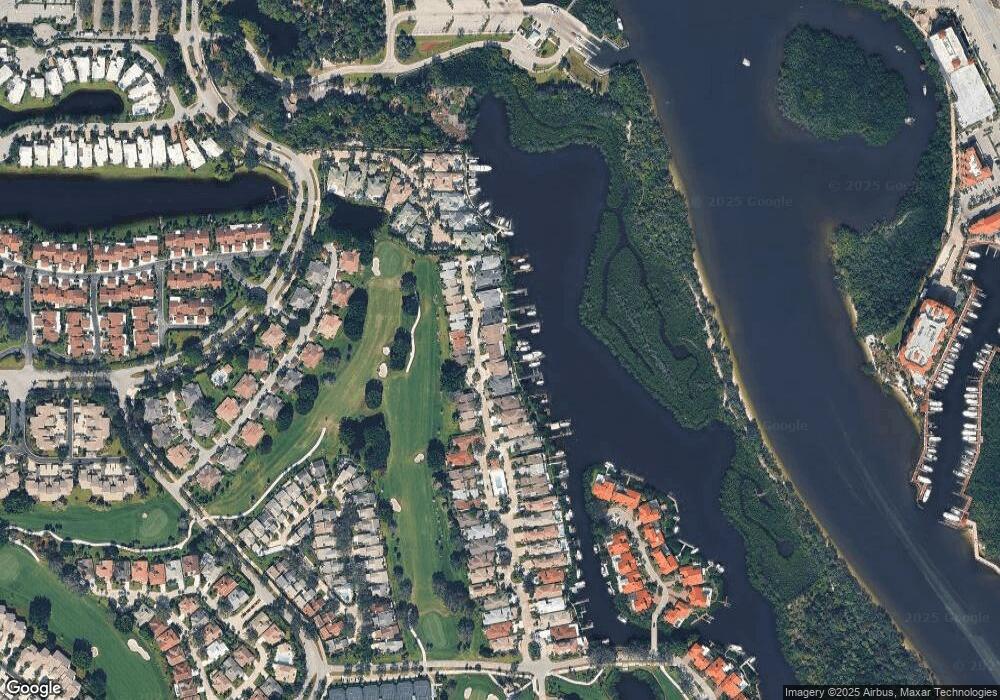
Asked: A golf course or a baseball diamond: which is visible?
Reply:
golf course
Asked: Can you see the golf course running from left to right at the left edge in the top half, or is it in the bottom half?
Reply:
bottom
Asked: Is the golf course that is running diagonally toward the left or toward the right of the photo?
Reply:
left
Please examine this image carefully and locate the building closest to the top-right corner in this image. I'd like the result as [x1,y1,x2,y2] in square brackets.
[931,24,979,74]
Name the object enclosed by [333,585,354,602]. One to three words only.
swimming pool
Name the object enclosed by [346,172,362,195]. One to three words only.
house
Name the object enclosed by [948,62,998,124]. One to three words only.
building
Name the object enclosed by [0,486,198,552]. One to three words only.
golf course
